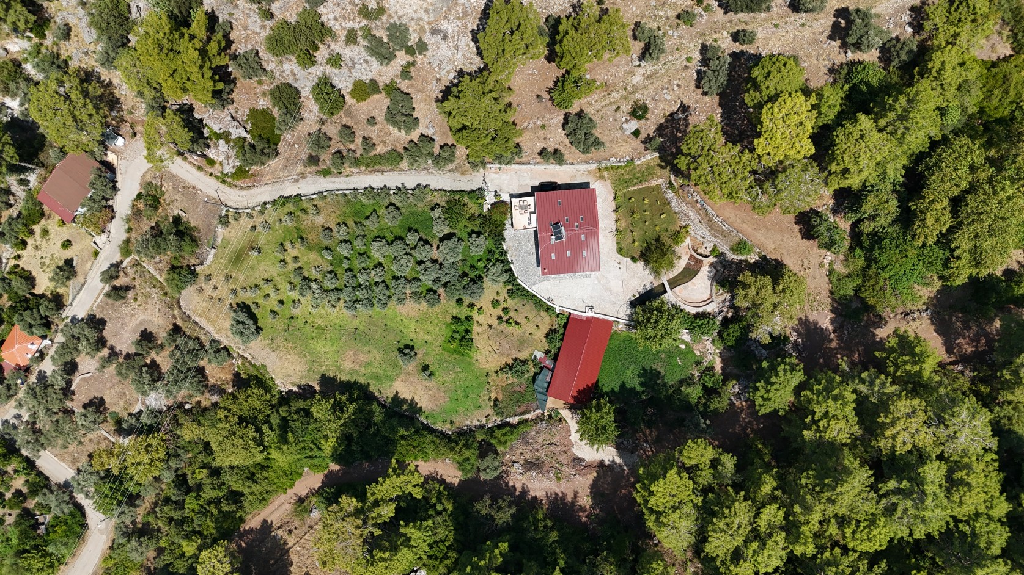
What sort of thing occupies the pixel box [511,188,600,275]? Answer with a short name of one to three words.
house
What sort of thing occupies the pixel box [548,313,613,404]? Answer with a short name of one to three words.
barn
